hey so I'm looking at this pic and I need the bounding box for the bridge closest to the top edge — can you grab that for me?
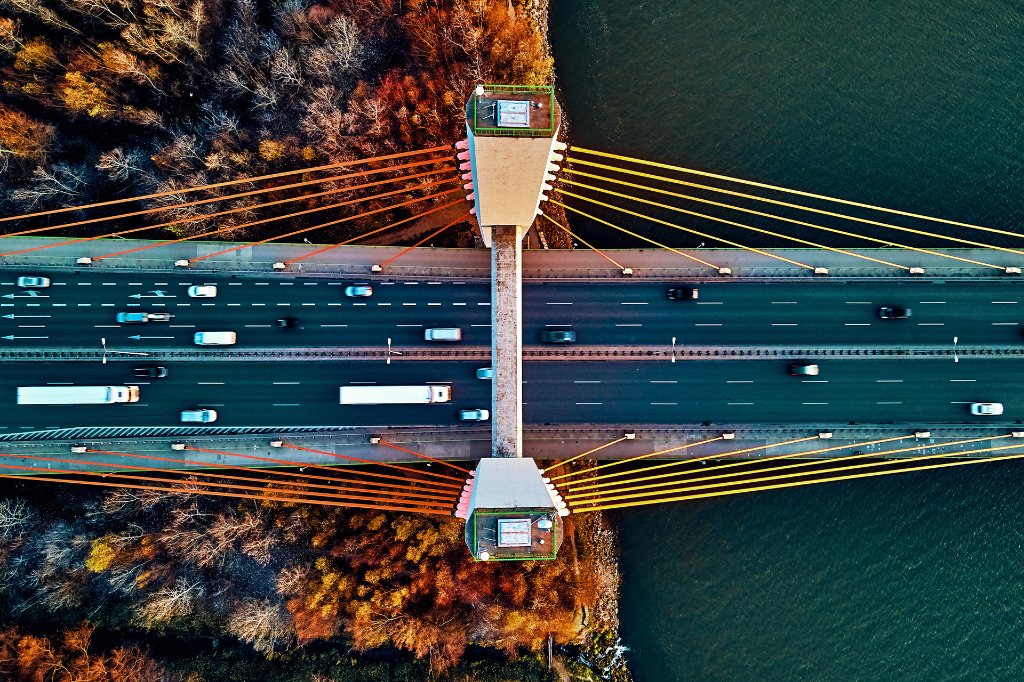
[0,85,1024,561]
